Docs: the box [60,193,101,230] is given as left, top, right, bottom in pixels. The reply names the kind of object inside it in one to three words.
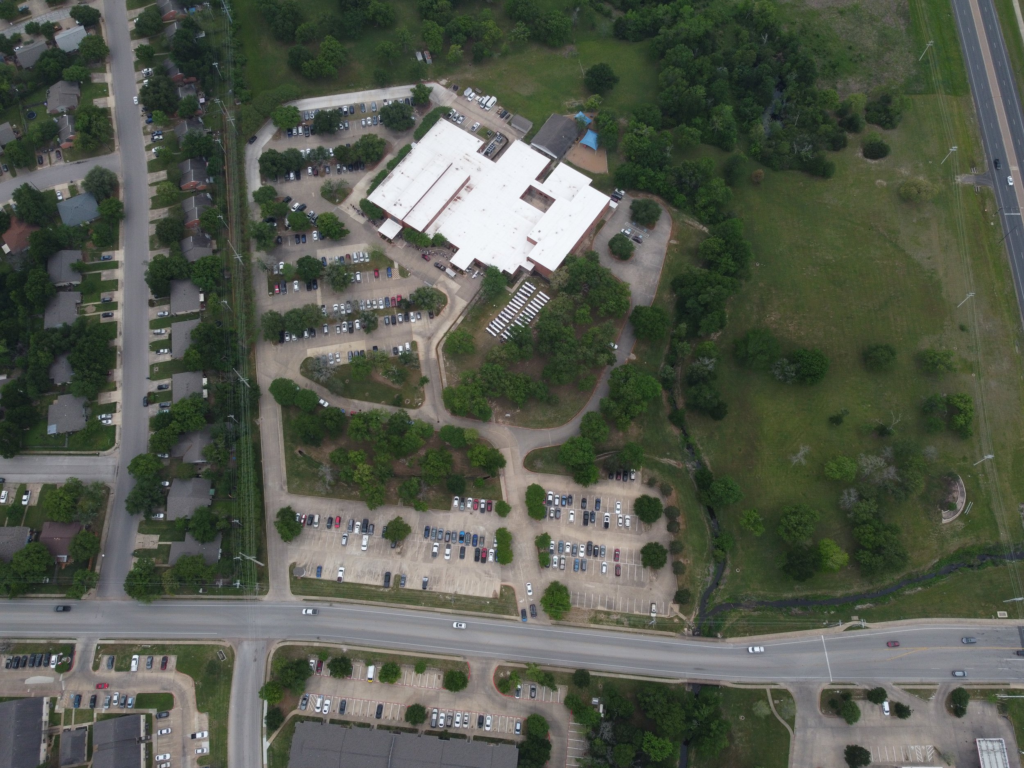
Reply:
house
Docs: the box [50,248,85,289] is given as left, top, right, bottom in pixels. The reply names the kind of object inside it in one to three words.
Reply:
house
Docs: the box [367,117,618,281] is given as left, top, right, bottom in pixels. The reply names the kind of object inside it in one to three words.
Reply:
building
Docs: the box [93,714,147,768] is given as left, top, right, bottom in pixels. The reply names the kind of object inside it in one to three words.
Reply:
building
